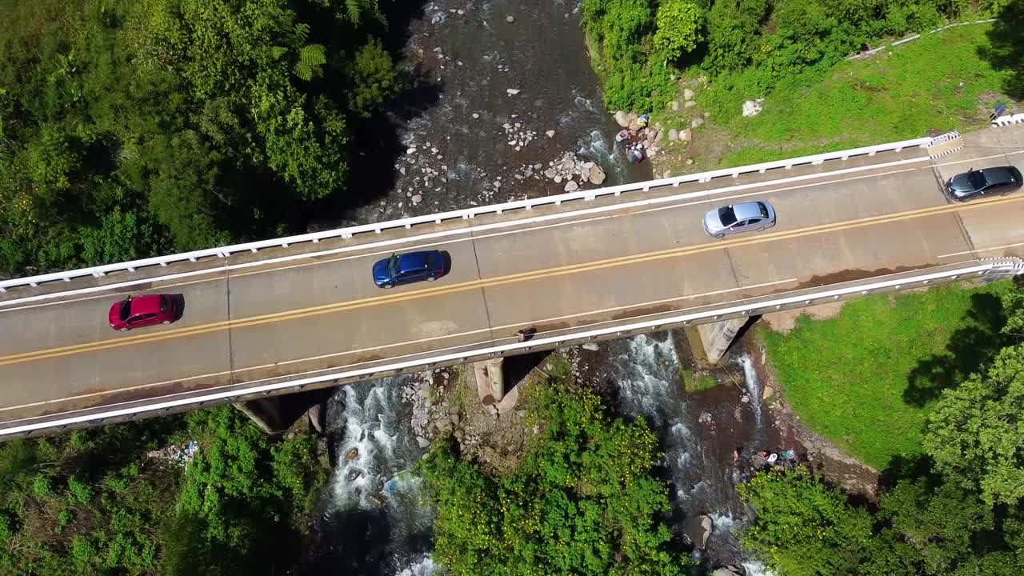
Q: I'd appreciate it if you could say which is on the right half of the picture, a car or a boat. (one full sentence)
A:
Visible on the right half of the picture is a car.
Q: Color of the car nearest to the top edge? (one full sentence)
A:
From above, the car nearest to the top edge appears black.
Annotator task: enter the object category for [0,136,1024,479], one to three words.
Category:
bridge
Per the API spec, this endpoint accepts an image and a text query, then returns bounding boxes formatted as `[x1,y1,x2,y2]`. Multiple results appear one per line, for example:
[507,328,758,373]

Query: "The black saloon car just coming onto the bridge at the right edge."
[946,167,1021,203]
